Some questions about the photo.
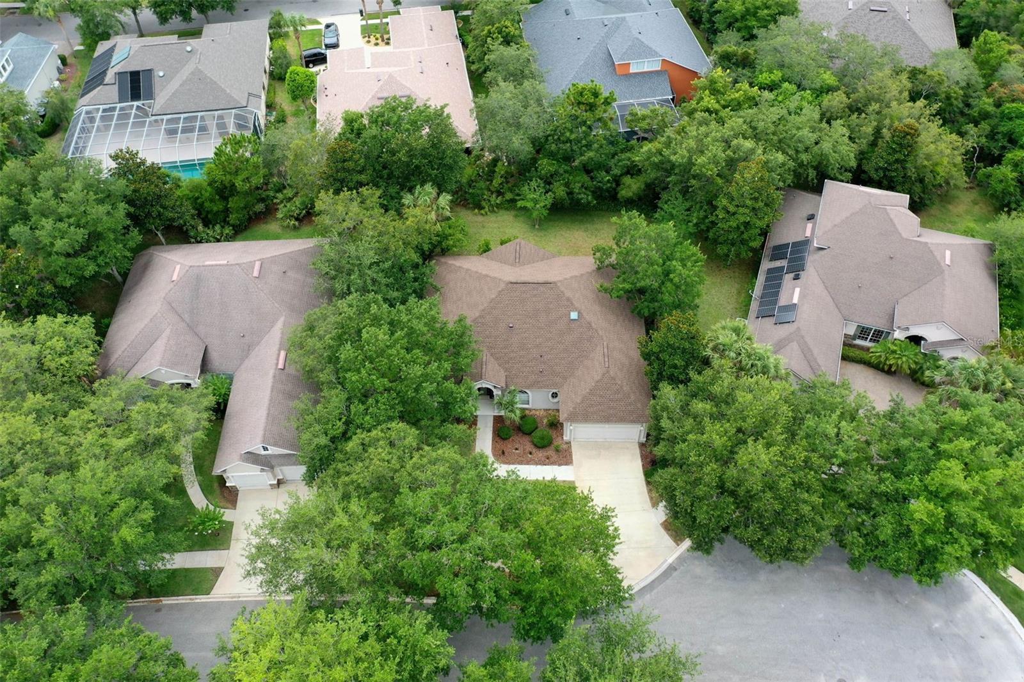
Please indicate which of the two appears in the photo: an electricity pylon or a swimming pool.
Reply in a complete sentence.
The one in the frame is a swimming pool.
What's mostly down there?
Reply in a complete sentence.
The scene is dominated by trees.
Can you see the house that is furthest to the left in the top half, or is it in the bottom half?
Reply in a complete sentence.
The house that is furthest to the left is in the top half of the image.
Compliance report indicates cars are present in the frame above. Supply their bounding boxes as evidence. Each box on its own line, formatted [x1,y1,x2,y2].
[320,23,338,43]
[298,43,338,64]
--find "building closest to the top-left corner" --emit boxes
[0,25,50,110]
